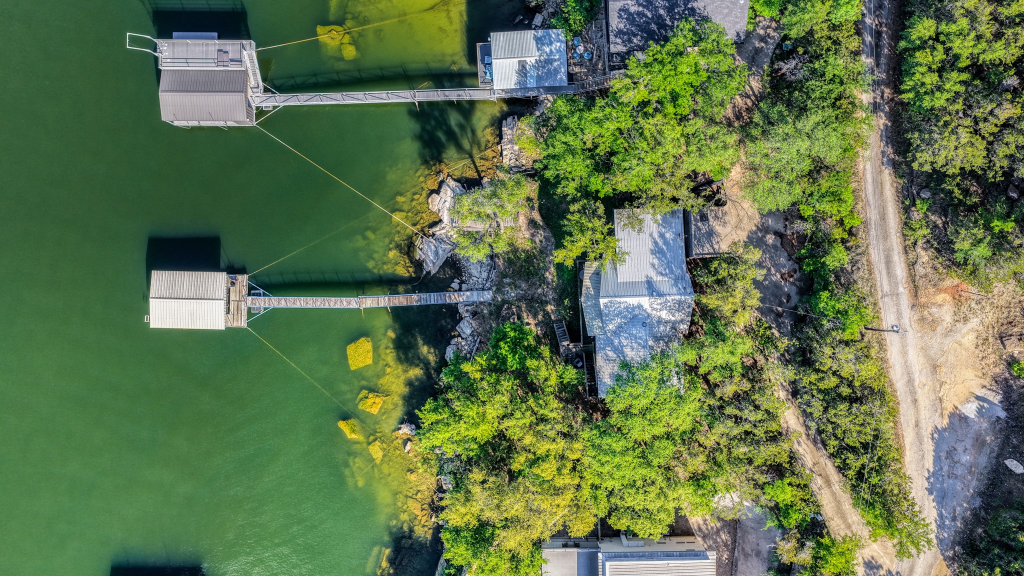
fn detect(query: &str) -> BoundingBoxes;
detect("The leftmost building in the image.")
[478,29,567,93]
